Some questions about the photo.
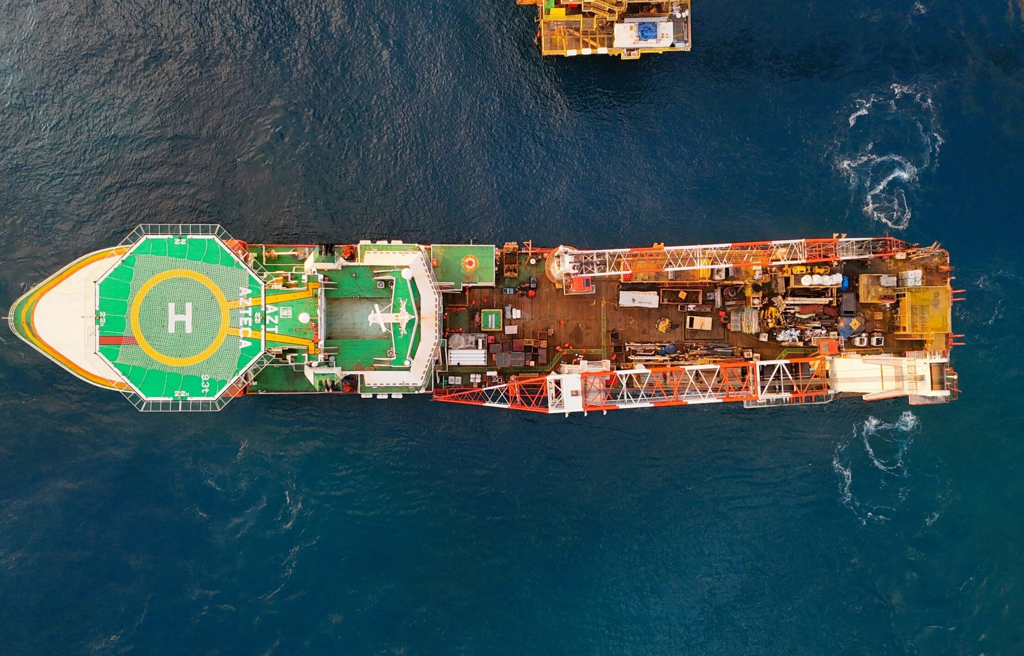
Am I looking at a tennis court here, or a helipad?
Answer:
helipad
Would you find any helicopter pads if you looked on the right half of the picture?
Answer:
No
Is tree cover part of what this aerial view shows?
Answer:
No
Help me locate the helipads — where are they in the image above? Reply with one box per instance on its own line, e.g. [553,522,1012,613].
[81,224,275,412]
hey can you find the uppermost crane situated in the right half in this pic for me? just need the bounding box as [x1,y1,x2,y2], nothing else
[545,231,920,295]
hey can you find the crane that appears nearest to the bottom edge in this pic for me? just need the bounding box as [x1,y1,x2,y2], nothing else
[431,336,963,416]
